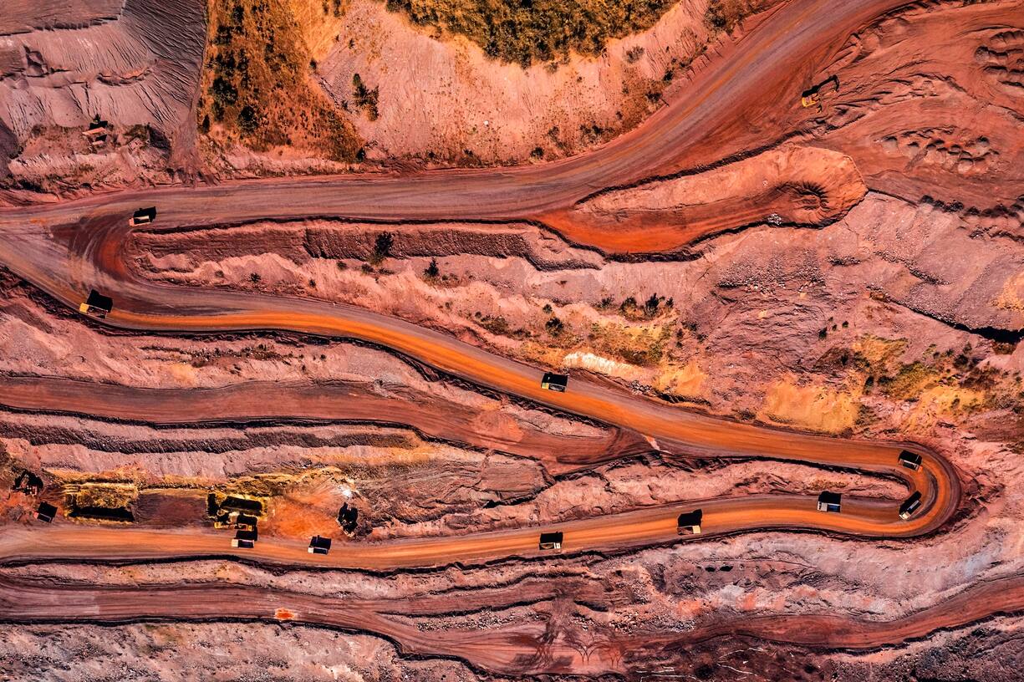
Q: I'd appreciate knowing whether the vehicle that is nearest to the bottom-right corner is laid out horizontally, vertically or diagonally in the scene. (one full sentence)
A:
The vehicle that is nearest to the bottom-right corner has been laid out diagonally relative to the frame.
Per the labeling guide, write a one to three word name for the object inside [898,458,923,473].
vehicle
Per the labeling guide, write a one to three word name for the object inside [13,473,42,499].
work vehicle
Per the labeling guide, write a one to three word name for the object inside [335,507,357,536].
work vehicle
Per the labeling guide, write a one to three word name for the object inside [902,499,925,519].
vehicle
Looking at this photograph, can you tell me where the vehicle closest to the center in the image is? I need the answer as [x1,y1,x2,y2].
[543,384,568,396]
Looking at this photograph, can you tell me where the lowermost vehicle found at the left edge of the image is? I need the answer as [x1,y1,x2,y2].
[29,512,53,528]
